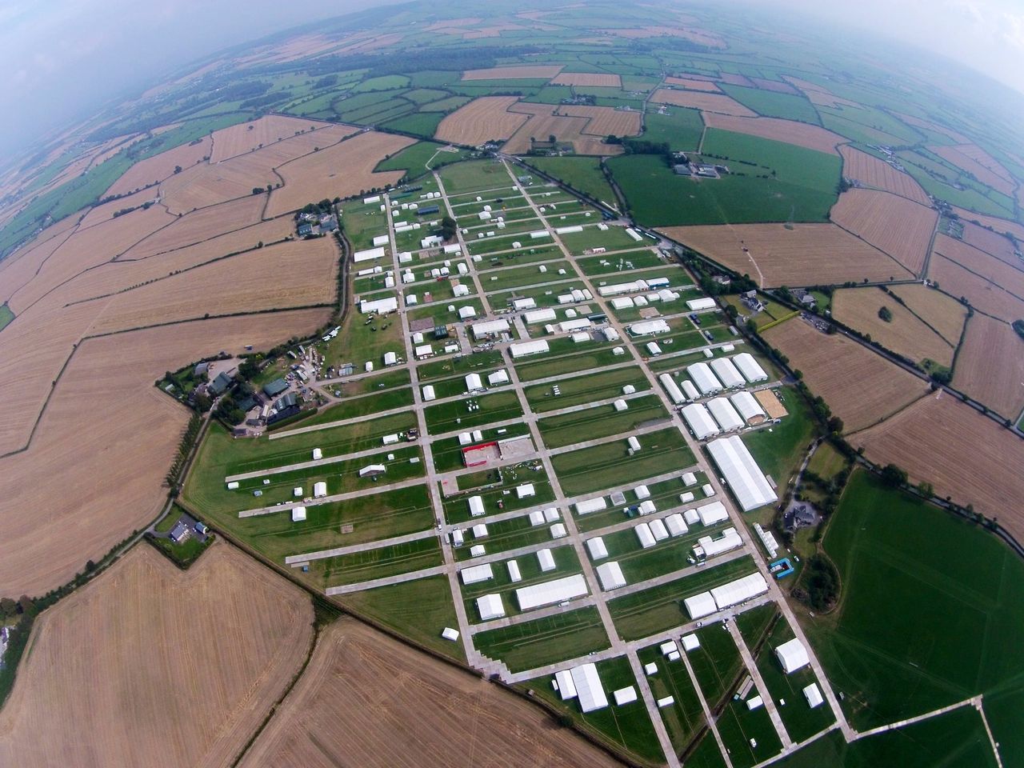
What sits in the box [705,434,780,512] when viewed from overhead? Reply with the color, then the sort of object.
white tent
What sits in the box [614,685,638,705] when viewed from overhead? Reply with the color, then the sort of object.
white tent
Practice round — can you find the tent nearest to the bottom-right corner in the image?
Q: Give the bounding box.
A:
[804,681,826,708]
